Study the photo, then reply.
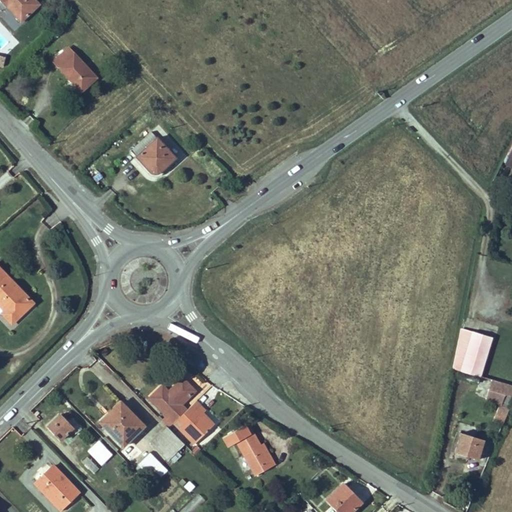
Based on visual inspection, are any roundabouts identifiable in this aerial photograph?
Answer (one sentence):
Yes, a roundabout is visible in the scene.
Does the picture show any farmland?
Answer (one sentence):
Yes, there's farmland in this view.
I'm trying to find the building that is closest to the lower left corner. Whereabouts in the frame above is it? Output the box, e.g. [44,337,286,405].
[34,466,80,512]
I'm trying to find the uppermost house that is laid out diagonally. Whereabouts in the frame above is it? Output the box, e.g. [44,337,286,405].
[54,46,98,92]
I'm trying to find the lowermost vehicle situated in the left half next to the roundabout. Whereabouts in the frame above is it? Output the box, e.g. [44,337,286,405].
[167,324,198,342]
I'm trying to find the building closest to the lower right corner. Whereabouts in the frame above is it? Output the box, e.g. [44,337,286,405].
[455,434,486,461]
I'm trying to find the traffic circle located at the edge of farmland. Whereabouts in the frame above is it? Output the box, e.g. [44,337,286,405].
[92,224,204,328]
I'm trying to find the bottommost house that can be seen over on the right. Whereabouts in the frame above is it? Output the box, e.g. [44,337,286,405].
[326,484,364,512]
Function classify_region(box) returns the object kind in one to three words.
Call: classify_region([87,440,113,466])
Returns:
shed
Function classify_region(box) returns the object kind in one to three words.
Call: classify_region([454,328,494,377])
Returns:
barn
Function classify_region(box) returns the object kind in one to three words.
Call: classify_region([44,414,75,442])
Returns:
house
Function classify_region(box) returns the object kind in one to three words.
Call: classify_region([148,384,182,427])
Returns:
house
